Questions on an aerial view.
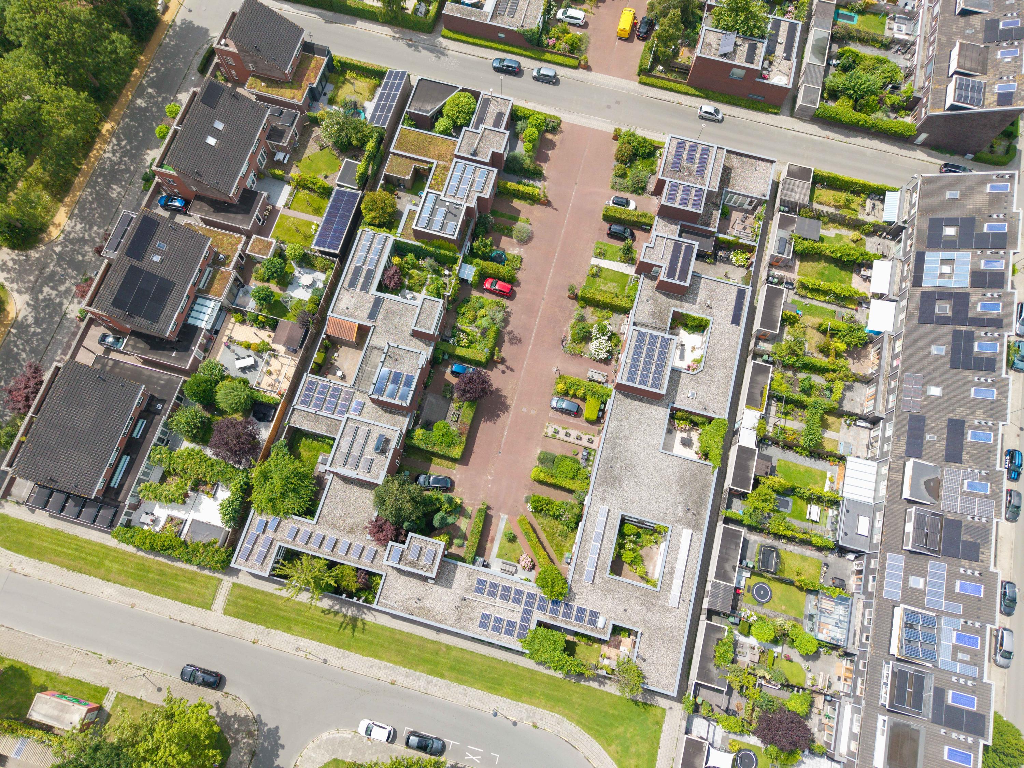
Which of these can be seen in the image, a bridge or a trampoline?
trampoline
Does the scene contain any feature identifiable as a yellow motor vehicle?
Yes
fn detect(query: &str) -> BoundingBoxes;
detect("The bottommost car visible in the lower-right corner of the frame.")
[993,626,1018,670]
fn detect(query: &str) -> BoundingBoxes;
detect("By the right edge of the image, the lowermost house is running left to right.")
[822,700,984,768]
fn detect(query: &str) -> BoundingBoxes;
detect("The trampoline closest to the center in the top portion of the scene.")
[490,244,507,265]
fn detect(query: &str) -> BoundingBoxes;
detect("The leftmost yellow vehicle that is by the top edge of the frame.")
[618,10,635,36]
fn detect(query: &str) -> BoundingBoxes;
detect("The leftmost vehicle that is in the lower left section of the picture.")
[179,665,222,690]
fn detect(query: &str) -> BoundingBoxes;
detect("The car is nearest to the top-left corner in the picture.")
[155,193,189,212]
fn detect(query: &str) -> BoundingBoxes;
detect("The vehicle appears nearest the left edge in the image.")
[94,332,125,351]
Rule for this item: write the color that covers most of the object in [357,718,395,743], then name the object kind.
white car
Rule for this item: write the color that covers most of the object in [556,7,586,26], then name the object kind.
white car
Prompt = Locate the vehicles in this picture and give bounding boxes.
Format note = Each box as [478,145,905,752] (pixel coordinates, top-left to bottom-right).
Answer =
[939,161,973,173]
[609,194,637,212]
[637,16,653,39]
[481,277,516,298]
[1006,488,1024,523]
[155,193,189,212]
[403,731,445,756]
[179,665,222,690]
[94,332,125,351]
[532,67,558,85]
[1001,580,1021,616]
[449,361,478,375]
[698,104,723,122]
[618,10,635,36]
[1013,340,1024,371]
[415,472,453,491]
[993,626,1018,670]
[1006,450,1024,479]
[549,396,582,416]
[556,7,586,26]
[357,718,395,743]
[606,223,636,242]
[492,56,522,75]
